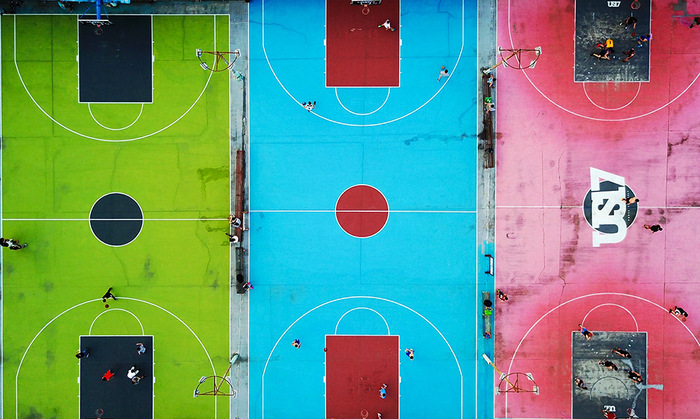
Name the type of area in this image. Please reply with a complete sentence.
What you see here is a sports ground.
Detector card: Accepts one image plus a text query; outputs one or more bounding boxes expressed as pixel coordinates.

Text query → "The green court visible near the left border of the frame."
[1,14,230,419]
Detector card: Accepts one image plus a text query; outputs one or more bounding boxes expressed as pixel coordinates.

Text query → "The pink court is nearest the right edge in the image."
[494,0,700,419]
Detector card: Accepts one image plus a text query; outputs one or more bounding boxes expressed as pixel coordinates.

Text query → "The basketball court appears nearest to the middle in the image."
[247,0,477,419]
